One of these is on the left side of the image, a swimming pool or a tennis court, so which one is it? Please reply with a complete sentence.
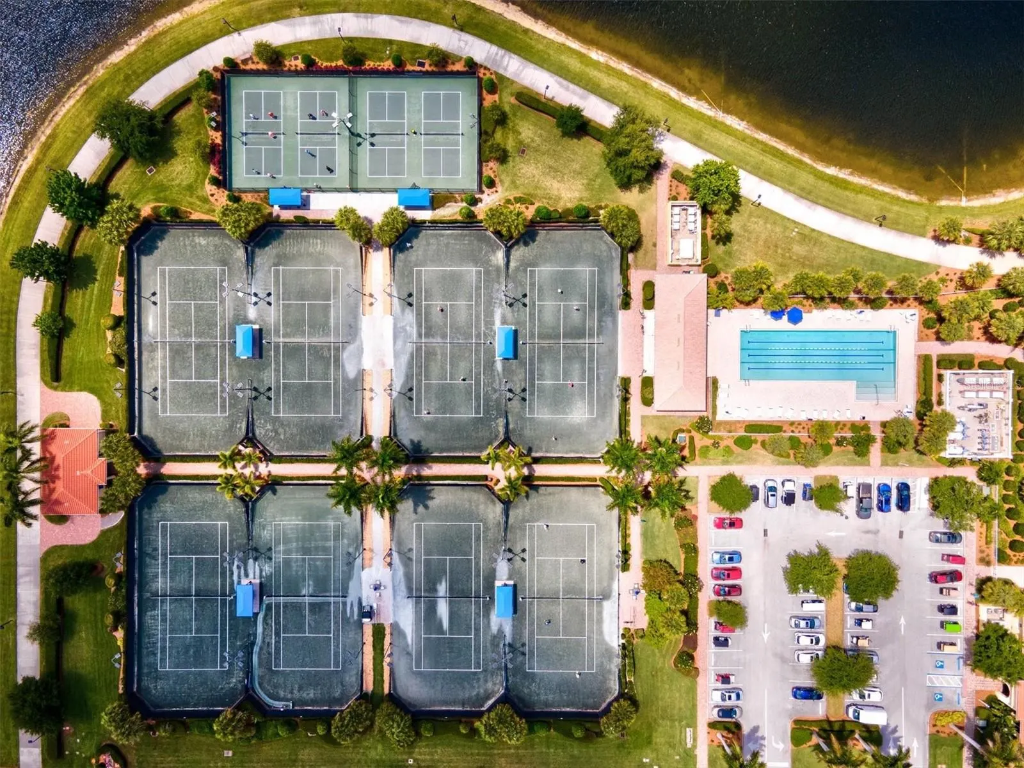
Visible on the left side of the image is a tennis court.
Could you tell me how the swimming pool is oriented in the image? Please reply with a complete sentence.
From this overhead view, the swimming pool appears to run from left to right.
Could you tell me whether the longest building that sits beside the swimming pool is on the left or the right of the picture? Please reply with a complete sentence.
The longest building that sits beside the swimming pool is on the right side of the image.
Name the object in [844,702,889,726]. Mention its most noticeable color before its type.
white vehicle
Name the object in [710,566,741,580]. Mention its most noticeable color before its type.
red car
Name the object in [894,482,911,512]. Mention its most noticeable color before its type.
blue car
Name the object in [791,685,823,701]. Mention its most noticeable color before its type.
blue car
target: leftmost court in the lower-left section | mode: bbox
[136,487,249,709]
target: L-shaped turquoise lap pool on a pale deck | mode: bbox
[739,325,898,405]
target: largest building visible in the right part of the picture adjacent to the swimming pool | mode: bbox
[654,274,708,411]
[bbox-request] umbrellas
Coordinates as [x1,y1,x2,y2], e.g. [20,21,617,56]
[786,307,802,325]
[768,308,782,322]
